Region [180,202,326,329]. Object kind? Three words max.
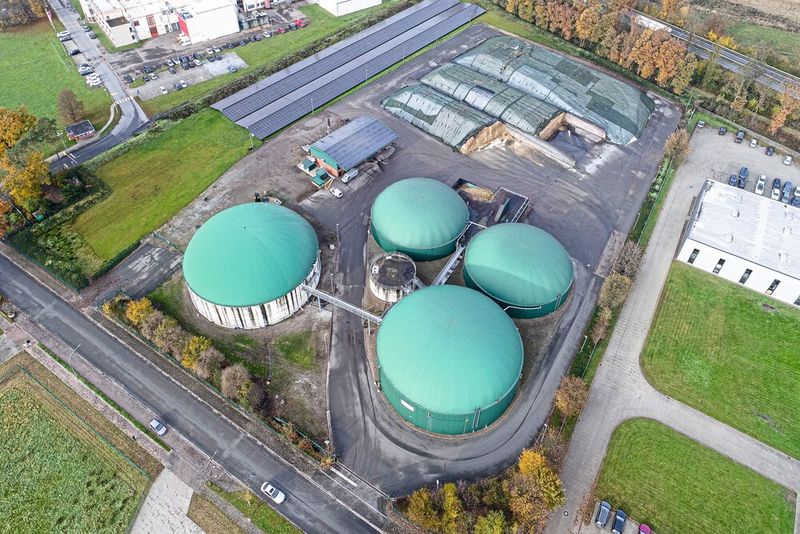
storage tank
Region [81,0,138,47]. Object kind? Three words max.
building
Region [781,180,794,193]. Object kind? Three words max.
vehicle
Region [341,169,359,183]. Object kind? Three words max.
vehicle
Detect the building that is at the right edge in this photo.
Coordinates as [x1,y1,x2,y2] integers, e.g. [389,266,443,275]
[672,179,800,304]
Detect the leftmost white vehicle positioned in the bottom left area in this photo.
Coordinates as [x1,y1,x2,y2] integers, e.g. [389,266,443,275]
[148,419,167,436]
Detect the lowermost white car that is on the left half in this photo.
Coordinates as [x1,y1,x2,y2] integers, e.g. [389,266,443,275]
[261,481,286,504]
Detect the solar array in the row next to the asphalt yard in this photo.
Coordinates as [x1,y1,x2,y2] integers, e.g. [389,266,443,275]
[238,1,486,141]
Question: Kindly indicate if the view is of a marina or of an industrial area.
industrial area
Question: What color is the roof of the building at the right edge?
white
